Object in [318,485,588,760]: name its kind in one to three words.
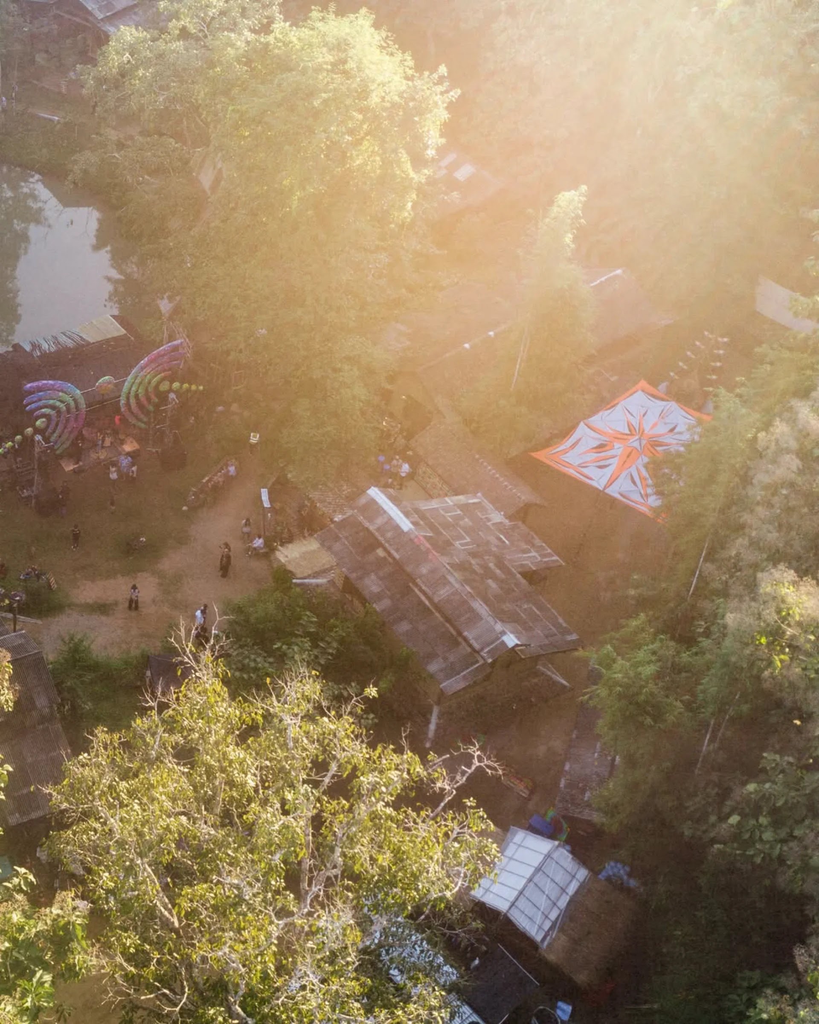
house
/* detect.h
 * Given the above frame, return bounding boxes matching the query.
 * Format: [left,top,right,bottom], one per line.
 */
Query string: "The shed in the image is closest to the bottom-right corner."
[534,868,673,1005]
